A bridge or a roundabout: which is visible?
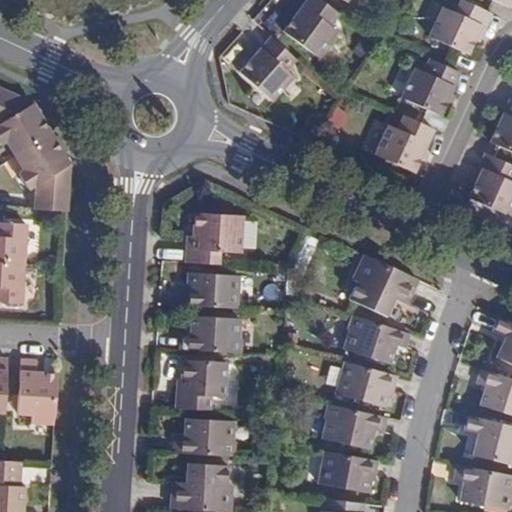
roundabout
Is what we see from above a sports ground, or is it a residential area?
residential area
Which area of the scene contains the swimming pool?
center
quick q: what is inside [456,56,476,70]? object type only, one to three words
car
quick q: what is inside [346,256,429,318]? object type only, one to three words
house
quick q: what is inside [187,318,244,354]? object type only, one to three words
house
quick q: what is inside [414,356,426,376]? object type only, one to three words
vehicle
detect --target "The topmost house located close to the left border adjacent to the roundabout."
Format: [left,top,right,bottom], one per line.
[0,103,71,211]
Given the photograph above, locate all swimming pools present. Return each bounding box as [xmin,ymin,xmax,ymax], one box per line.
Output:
[258,282,282,302]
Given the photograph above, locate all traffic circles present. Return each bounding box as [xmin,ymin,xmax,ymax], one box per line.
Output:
[107,63,206,167]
